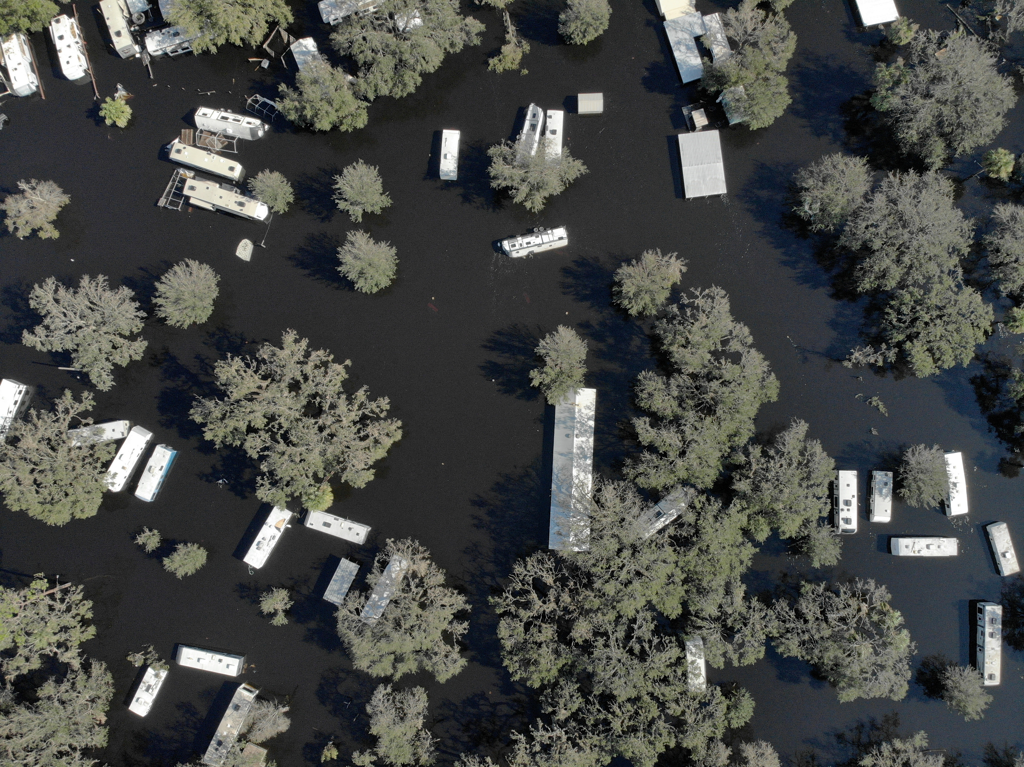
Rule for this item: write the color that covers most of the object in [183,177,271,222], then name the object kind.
white trailer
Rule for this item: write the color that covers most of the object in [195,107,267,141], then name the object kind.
white trailer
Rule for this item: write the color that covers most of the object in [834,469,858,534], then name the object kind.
white vehicle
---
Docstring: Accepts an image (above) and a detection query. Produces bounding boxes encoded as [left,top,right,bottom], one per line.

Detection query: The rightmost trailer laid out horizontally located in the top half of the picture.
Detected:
[502,226,568,257]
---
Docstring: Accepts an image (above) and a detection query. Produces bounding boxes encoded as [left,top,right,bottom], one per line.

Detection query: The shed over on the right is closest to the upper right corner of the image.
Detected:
[850,0,899,33]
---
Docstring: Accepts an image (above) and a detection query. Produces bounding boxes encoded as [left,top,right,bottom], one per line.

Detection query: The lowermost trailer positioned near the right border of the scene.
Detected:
[976,602,1002,685]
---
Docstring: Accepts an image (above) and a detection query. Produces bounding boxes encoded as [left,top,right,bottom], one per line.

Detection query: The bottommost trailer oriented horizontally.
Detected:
[177,644,245,677]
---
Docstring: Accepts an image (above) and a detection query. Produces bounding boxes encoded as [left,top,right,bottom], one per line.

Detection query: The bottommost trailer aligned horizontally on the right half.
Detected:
[886,535,959,556]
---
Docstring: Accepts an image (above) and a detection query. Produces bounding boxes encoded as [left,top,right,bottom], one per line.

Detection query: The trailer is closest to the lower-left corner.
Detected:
[129,661,170,716]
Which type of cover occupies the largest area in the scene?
water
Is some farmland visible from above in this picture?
No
